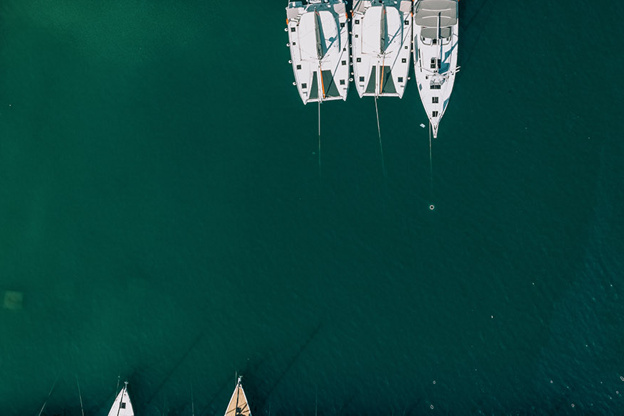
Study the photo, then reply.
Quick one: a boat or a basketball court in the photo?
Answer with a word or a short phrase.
boat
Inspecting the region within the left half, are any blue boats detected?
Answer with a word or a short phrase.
No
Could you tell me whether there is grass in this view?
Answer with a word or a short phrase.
No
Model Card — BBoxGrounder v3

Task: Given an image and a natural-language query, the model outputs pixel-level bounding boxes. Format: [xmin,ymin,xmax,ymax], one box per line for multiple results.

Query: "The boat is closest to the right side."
[413,0,459,180]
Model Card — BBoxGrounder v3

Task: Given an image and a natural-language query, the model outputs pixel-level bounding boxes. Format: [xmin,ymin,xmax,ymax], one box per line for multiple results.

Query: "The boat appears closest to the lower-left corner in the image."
[111,382,134,416]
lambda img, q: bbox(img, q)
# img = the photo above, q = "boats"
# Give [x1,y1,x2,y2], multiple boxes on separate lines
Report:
[413,0,459,180]
[348,0,413,148]
[111,382,134,416]
[282,0,351,115]
[227,374,252,416]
